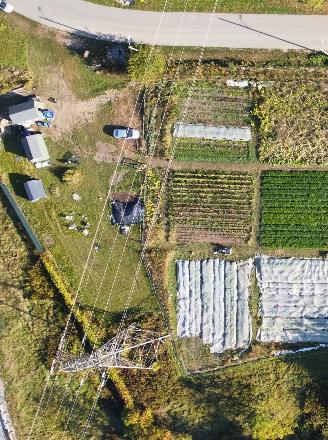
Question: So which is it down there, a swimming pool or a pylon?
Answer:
pylon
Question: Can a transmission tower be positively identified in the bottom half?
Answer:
Yes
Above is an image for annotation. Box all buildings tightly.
[21,179,51,202]
[18,134,52,165]
[3,97,44,125]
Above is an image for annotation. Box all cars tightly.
[113,129,141,141]
[0,0,14,13]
